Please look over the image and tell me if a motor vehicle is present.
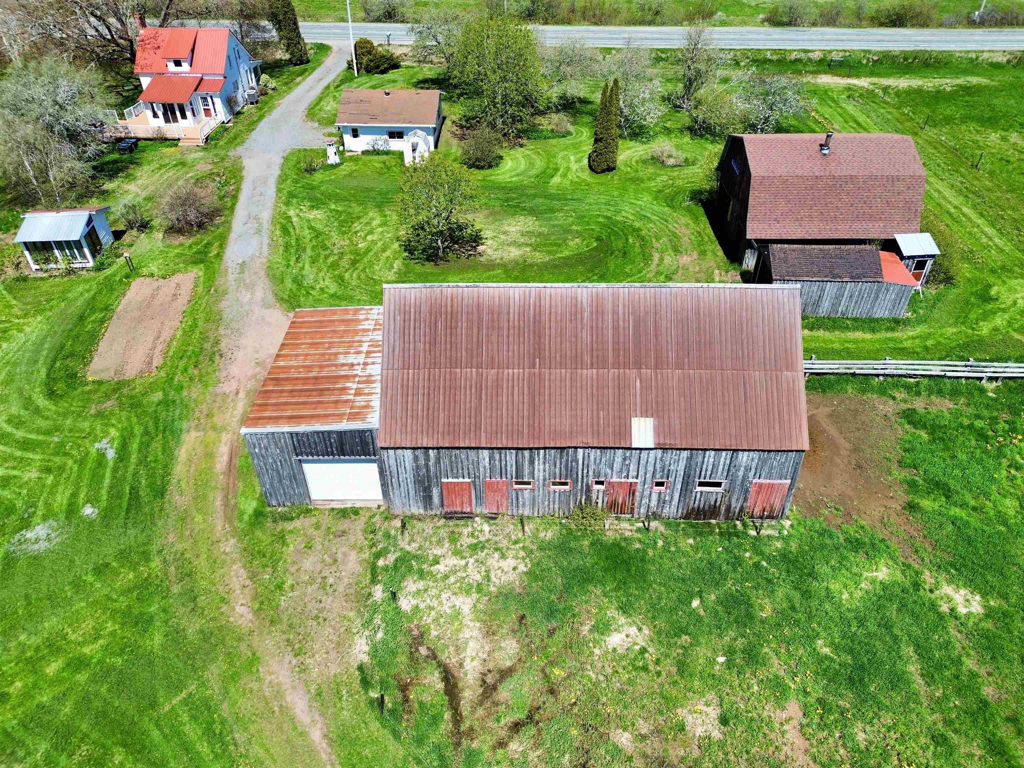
No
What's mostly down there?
grass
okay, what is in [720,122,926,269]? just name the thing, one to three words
barn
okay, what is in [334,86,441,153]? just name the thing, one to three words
house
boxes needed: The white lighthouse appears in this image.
[327,139,340,165]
